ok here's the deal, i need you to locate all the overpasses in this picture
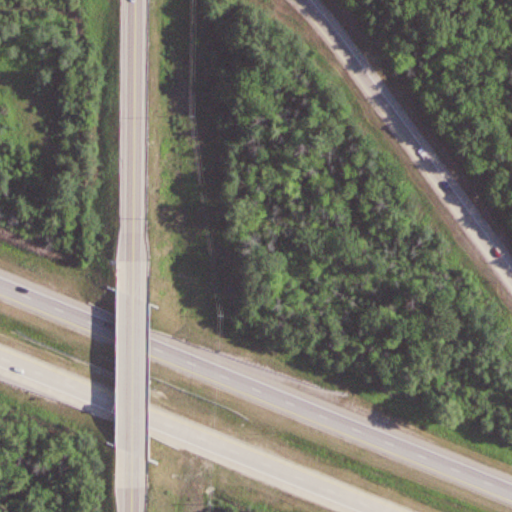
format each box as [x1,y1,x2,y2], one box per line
[107,261,158,488]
